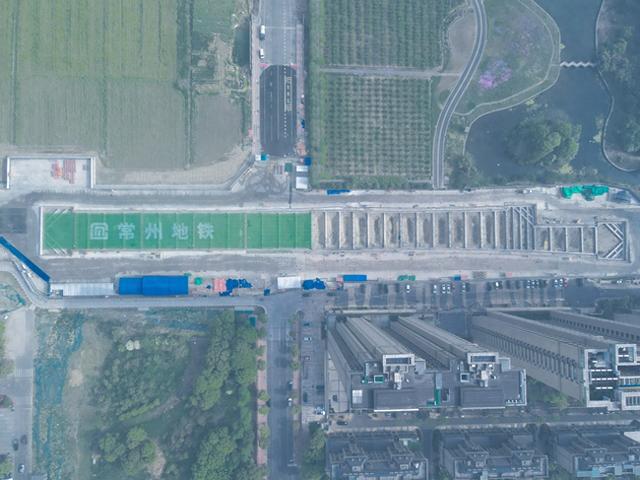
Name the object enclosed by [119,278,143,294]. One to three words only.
shed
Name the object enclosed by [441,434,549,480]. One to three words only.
building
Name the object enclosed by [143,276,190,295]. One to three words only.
shed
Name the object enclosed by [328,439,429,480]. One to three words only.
building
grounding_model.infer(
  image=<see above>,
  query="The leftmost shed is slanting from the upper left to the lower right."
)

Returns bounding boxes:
[0,233,54,282]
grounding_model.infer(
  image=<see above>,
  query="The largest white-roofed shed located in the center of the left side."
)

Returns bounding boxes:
[49,283,116,296]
